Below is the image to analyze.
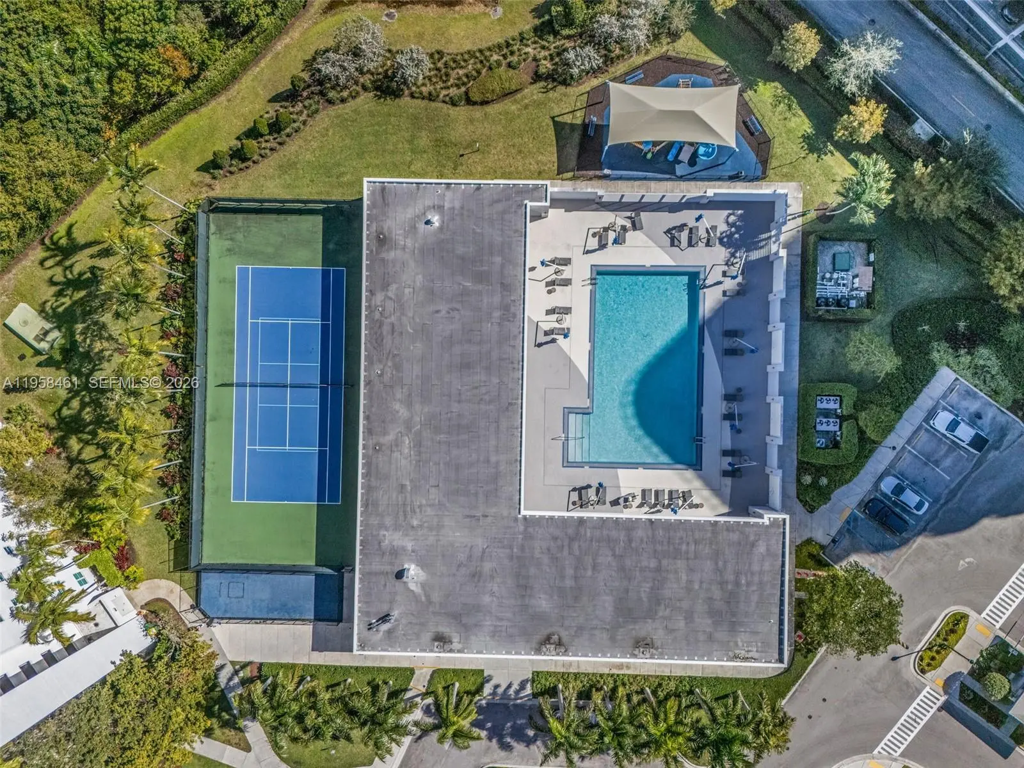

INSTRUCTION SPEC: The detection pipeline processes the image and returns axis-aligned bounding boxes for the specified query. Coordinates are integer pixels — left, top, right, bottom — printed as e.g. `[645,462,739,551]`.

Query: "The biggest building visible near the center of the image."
[353,179,789,667]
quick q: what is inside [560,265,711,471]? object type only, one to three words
swimming pool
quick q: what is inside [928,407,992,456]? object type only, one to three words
truck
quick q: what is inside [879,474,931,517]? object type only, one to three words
car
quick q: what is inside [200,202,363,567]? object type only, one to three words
tennis court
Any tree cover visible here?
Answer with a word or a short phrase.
Yes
